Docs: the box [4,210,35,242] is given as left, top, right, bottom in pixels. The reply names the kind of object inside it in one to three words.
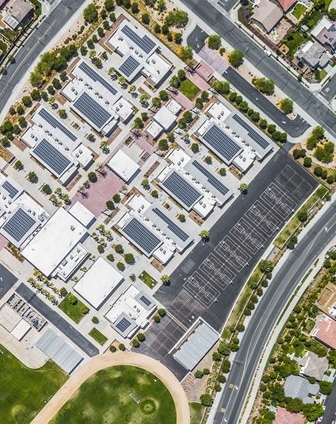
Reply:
solar array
